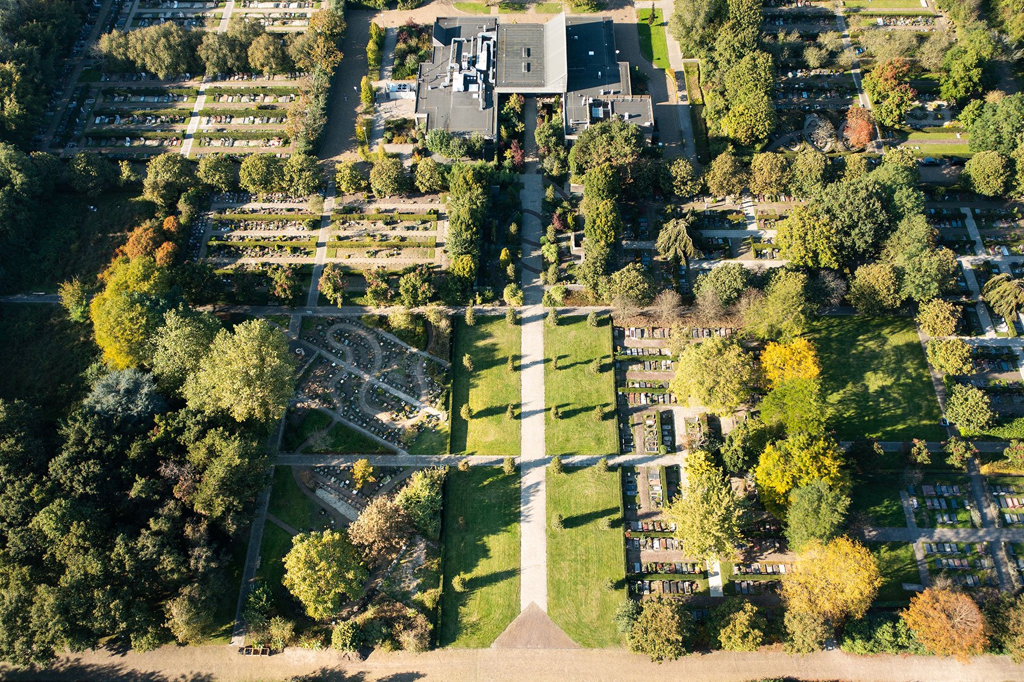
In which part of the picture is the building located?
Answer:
top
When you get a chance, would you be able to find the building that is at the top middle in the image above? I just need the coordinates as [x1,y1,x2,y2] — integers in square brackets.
[416,9,654,150]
